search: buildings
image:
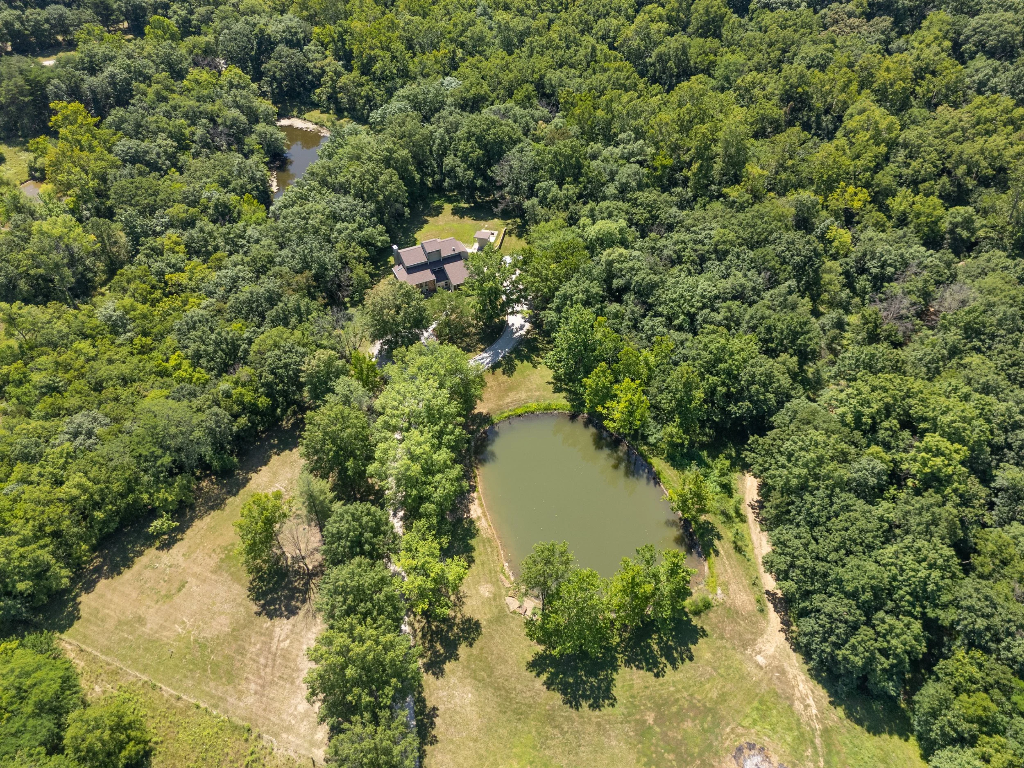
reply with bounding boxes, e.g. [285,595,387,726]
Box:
[473,229,490,247]
[392,237,470,300]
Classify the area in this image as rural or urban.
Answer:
rural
